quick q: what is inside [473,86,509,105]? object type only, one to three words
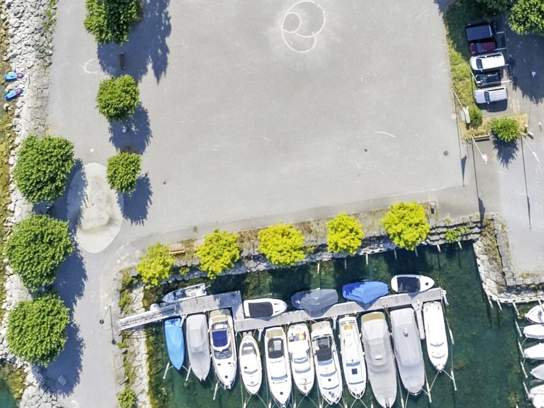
car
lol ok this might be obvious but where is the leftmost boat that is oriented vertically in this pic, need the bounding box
[161,315,185,370]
